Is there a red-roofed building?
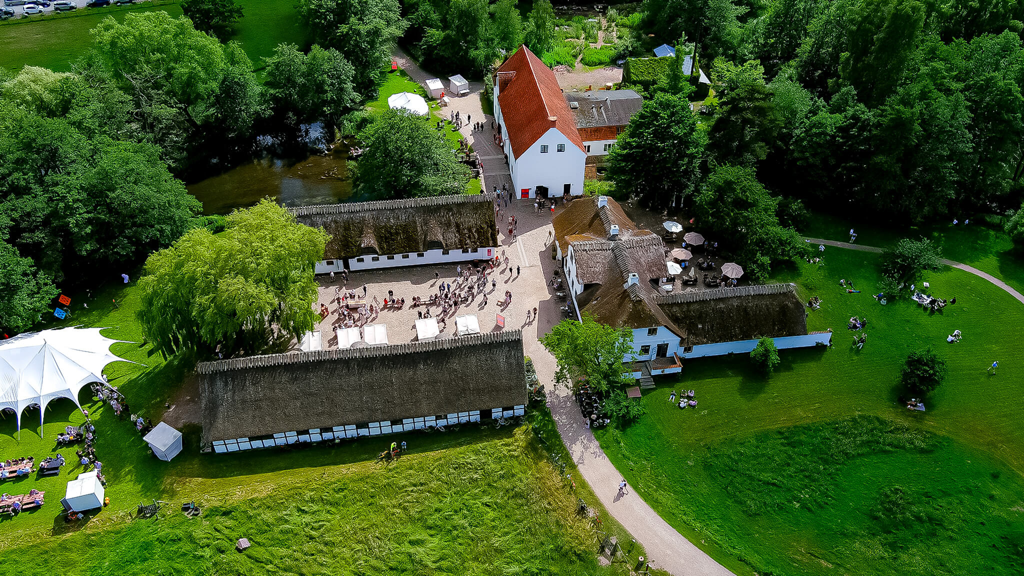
Yes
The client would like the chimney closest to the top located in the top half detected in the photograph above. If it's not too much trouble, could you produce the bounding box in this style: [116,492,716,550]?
[545,113,558,129]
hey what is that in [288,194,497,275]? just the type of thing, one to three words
barn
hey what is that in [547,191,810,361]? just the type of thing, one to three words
house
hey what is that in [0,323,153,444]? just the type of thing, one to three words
tent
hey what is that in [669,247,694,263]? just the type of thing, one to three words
umbrella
